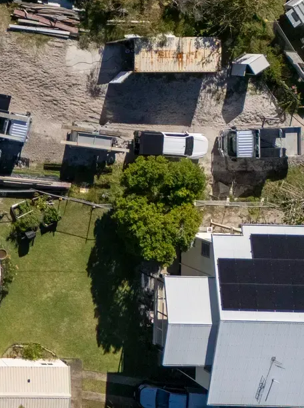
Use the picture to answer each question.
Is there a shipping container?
Yes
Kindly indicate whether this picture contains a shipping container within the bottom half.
No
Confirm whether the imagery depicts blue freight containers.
No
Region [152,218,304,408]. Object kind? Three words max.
house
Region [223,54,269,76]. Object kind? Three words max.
shed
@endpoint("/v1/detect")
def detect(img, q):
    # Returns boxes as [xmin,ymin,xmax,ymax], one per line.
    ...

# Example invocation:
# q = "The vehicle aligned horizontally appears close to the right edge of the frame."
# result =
[212,127,304,160]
